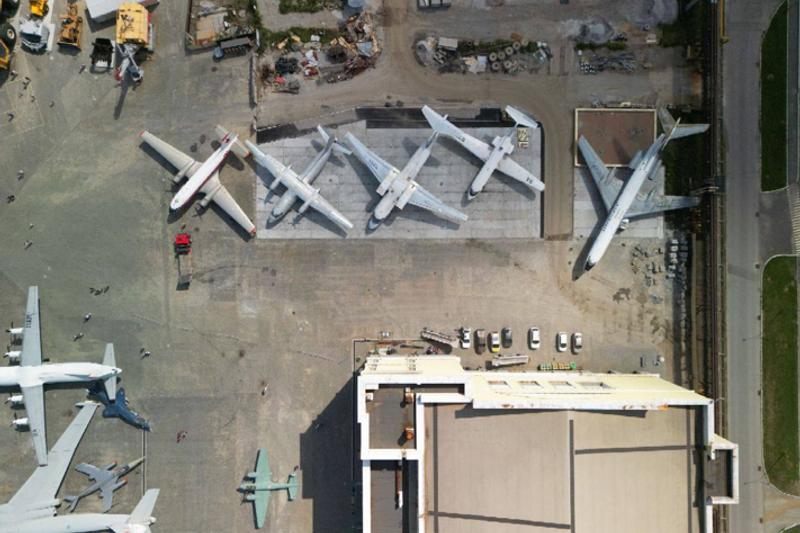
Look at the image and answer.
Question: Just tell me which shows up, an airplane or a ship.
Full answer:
This aerial view contains an airplane.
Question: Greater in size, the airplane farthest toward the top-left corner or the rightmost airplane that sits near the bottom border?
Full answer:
The airplane farthest toward the top-left corner is bigger than the rightmost airplane that sits near the bottom border.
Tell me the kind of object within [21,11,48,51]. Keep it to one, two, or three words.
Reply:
truck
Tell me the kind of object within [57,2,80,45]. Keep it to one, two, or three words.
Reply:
work vehicle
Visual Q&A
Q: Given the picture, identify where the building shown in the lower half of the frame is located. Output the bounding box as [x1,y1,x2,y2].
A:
[357,355,739,533]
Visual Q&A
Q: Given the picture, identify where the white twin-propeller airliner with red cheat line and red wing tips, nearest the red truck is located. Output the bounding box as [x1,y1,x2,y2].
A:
[139,124,255,234]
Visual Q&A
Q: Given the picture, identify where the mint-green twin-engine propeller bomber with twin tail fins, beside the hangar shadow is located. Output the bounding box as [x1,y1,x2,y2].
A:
[238,448,298,528]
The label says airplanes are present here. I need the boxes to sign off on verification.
[242,122,355,228]
[83,379,152,431]
[452,106,545,200]
[0,282,124,468]
[584,99,709,270]
[0,410,161,533]
[62,457,146,515]
[238,448,298,528]
[139,124,255,234]
[348,104,468,233]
